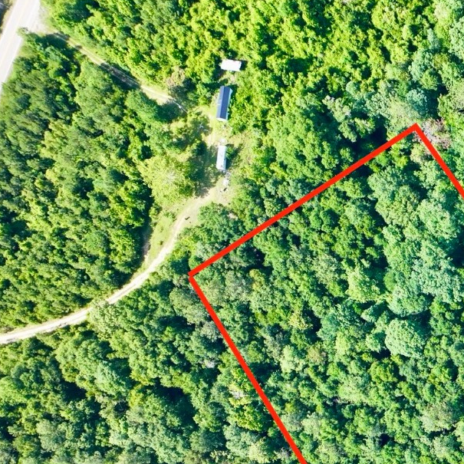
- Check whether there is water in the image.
No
